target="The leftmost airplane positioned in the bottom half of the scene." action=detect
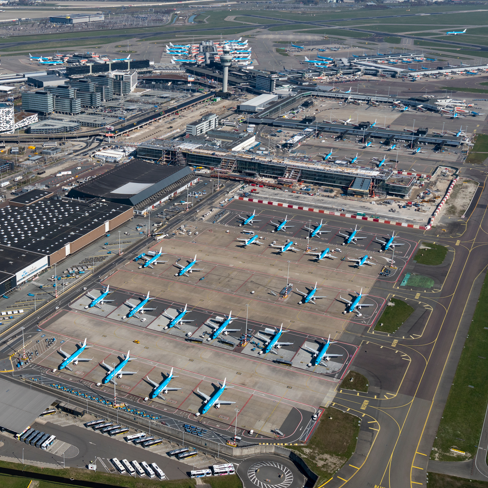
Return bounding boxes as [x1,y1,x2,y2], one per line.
[59,339,95,369]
